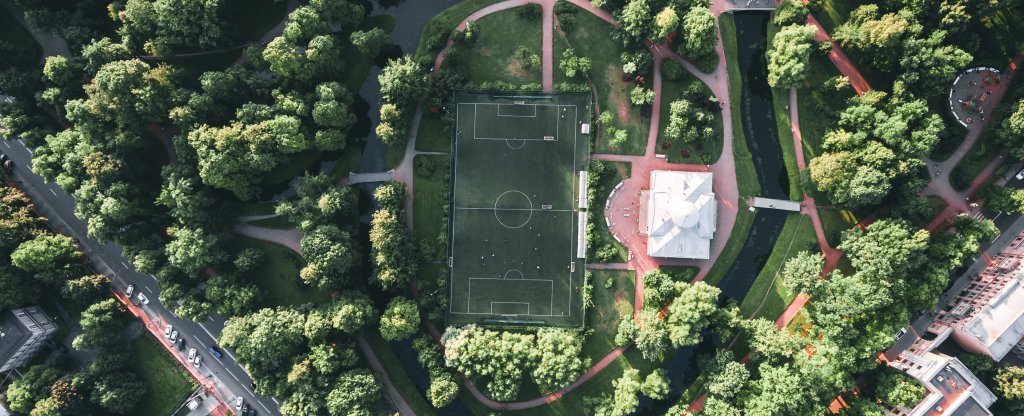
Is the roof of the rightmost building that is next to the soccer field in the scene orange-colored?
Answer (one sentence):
No, the roof of the rightmost building that is next to the soccer field is white.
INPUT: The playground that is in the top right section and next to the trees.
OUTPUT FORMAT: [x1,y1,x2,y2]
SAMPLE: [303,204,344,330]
[950,69,1004,124]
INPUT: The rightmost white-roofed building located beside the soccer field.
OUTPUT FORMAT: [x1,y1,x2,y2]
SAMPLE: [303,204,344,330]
[632,168,717,261]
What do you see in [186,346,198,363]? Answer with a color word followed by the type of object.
white vehicle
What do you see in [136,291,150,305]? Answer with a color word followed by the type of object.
white car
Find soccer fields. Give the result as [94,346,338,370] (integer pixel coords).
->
[446,91,592,327]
